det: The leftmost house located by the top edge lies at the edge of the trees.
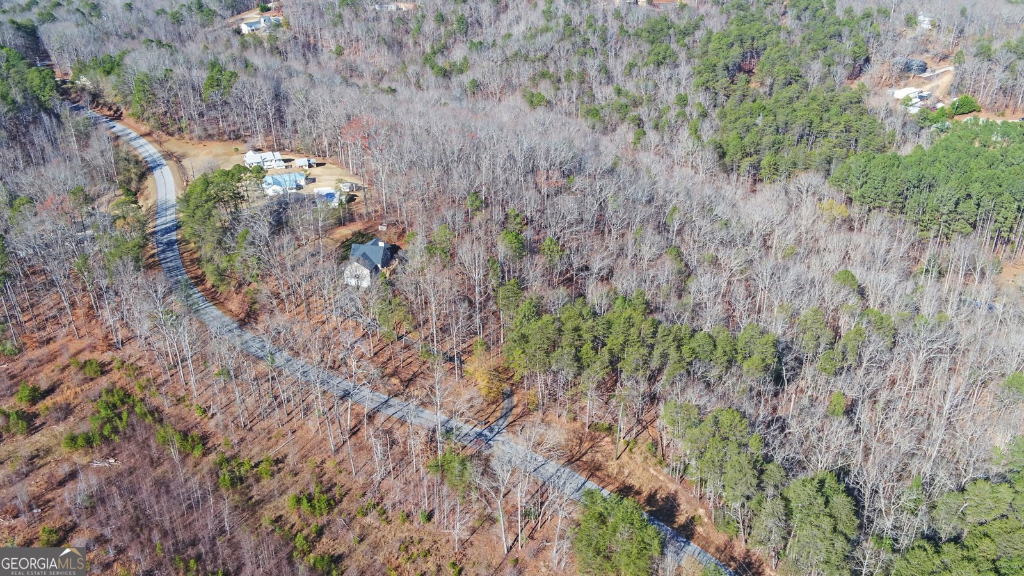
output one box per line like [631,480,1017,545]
[237,17,273,33]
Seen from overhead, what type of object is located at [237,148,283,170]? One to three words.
house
